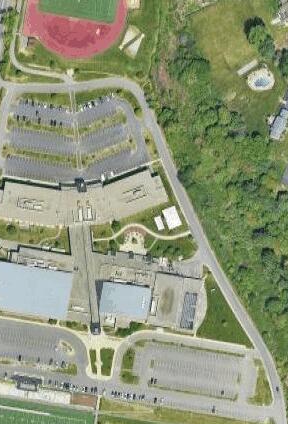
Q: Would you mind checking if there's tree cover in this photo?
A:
Yes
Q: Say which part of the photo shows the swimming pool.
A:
top right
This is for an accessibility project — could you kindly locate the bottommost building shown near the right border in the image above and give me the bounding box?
[270,108,288,139]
